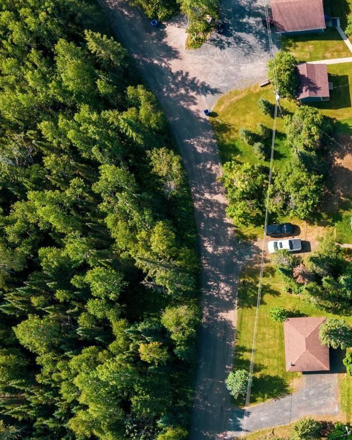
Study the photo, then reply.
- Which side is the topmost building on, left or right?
right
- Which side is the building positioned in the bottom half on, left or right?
right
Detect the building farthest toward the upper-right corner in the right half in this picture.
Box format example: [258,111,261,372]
[272,0,326,38]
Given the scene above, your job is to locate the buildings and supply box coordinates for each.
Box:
[283,316,329,371]
[297,61,334,102]
[272,0,326,38]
